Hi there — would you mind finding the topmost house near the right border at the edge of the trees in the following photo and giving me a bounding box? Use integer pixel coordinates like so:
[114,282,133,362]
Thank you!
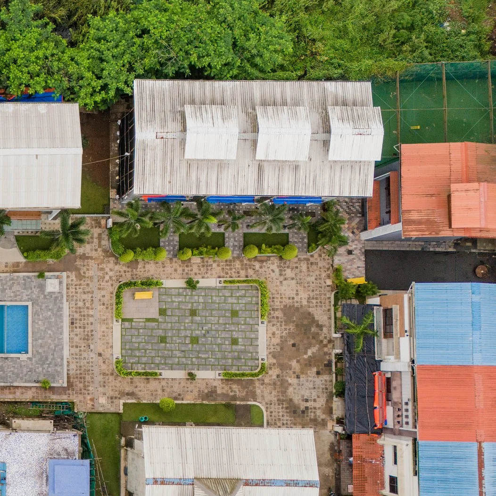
[349,142,496,243]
